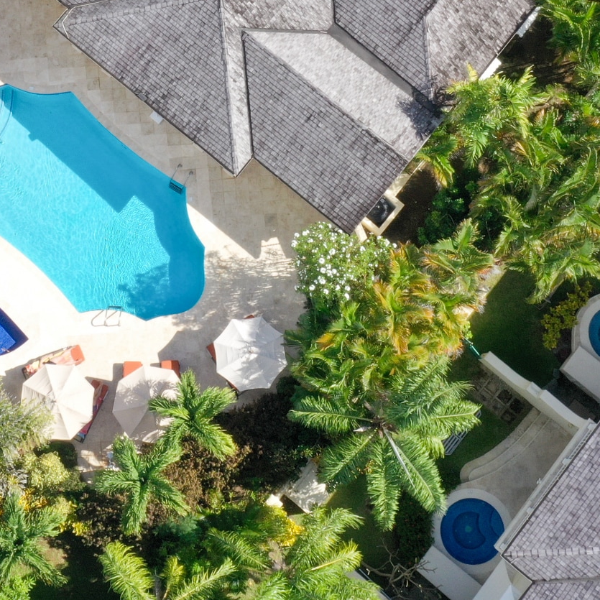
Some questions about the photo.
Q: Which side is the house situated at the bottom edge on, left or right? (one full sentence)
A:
The house situated at the bottom edge is on the right side of the image.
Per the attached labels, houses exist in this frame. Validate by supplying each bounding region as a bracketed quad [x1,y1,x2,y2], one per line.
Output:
[449,388,600,600]
[52,0,524,232]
